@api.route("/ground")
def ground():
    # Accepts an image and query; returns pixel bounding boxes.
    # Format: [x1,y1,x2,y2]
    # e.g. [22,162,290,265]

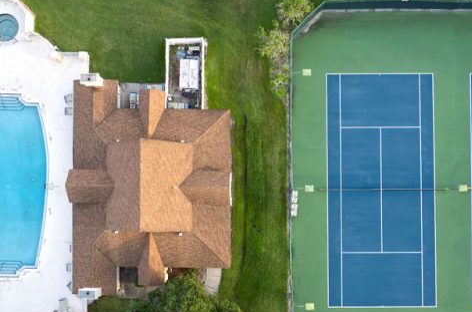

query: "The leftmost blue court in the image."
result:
[318,74,448,307]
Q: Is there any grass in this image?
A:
Yes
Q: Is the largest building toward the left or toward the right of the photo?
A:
left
